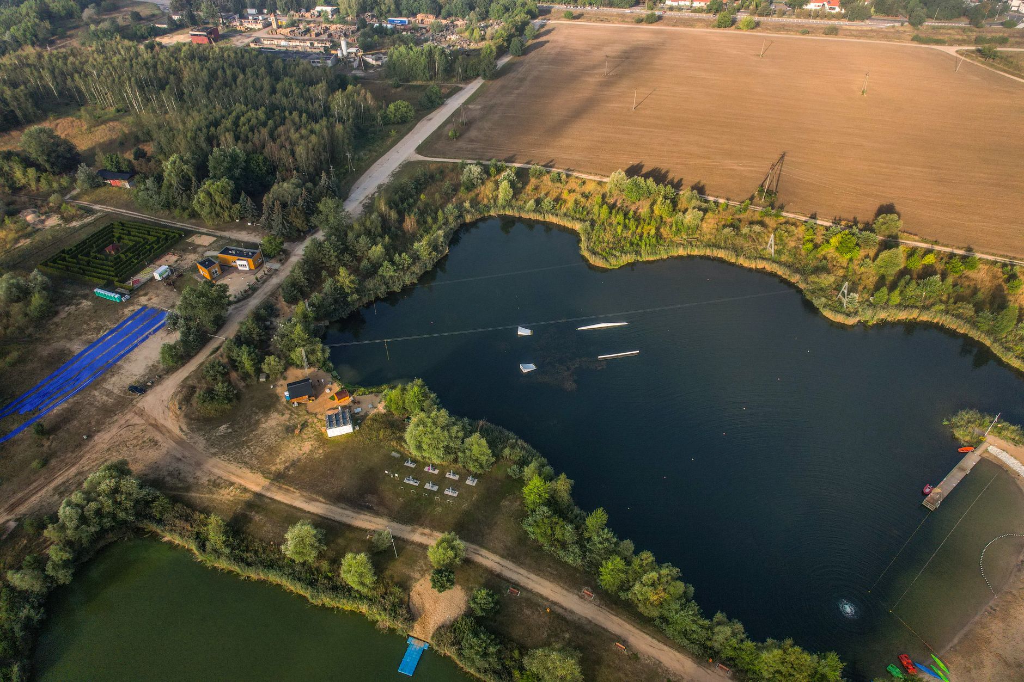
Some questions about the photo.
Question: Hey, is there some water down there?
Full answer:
Yes, water can be seen from above here.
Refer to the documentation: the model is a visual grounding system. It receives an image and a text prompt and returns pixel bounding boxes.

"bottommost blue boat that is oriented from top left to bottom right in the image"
[915,662,941,679]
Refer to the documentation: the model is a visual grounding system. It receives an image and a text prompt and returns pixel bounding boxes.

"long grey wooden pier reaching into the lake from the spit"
[918,440,986,515]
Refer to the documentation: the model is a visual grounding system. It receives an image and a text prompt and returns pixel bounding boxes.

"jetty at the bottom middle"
[395,638,428,682]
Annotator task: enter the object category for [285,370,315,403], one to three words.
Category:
shed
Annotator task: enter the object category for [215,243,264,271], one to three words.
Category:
building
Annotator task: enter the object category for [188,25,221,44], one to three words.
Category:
shed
